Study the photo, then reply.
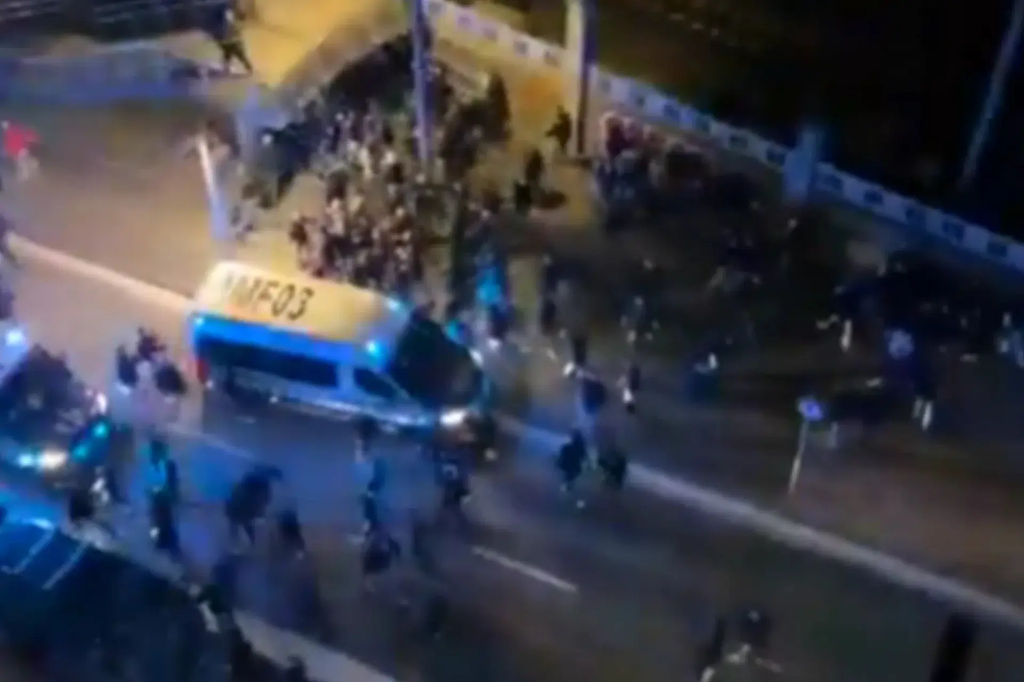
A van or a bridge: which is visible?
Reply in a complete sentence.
Visible in the photo is a van.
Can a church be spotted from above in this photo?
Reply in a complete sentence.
No, there isn't any church down there.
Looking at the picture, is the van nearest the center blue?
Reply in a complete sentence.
Yes, the van nearest the center is blue.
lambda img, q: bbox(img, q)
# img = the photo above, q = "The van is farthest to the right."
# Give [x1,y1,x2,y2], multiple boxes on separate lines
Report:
[197,254,492,451]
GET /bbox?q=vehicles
[197,254,492,451]
[0,329,121,490]
[0,512,222,682]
